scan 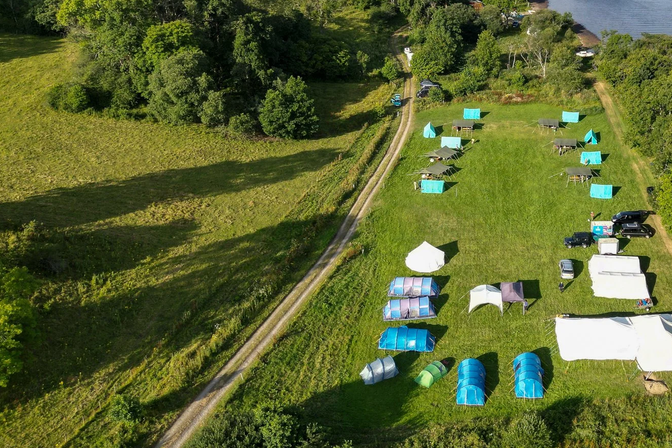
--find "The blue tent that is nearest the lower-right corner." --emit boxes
[504,350,552,403]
